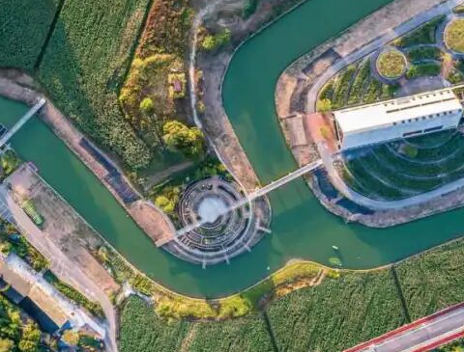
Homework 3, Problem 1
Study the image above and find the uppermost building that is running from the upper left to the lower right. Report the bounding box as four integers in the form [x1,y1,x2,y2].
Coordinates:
[0,260,32,297]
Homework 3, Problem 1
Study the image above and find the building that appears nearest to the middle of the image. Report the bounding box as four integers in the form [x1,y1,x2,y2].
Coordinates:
[286,114,307,148]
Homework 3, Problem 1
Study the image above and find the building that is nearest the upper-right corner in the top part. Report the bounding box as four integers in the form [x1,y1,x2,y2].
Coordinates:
[329,88,463,150]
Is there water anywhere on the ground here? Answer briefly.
Yes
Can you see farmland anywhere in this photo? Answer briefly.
Yes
